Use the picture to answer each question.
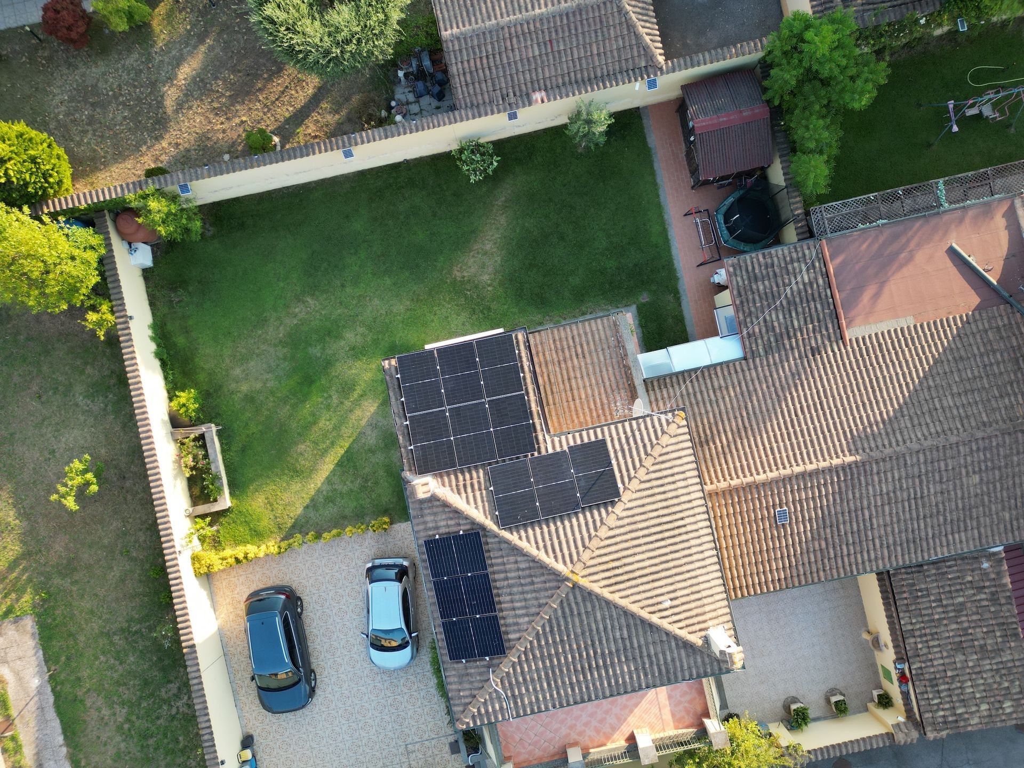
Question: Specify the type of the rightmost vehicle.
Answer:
car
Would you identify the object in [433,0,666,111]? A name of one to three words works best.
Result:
house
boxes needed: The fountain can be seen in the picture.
[862,626,883,655]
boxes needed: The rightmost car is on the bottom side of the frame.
[359,555,419,672]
